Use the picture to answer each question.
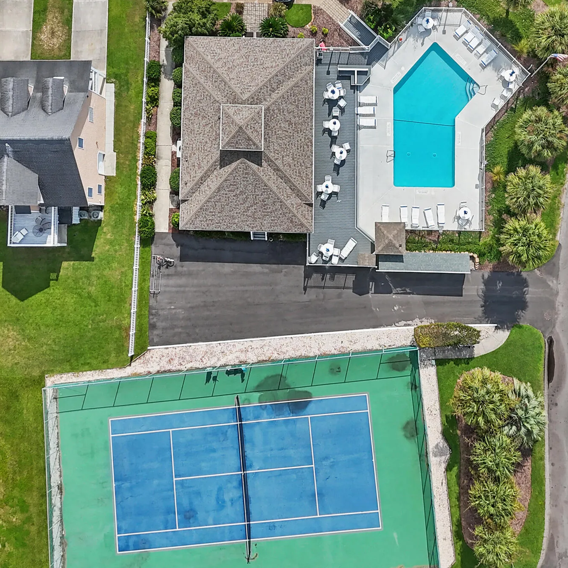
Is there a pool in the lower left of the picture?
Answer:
No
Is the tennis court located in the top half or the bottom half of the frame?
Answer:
bottom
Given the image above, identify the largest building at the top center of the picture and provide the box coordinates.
[178,30,315,242]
